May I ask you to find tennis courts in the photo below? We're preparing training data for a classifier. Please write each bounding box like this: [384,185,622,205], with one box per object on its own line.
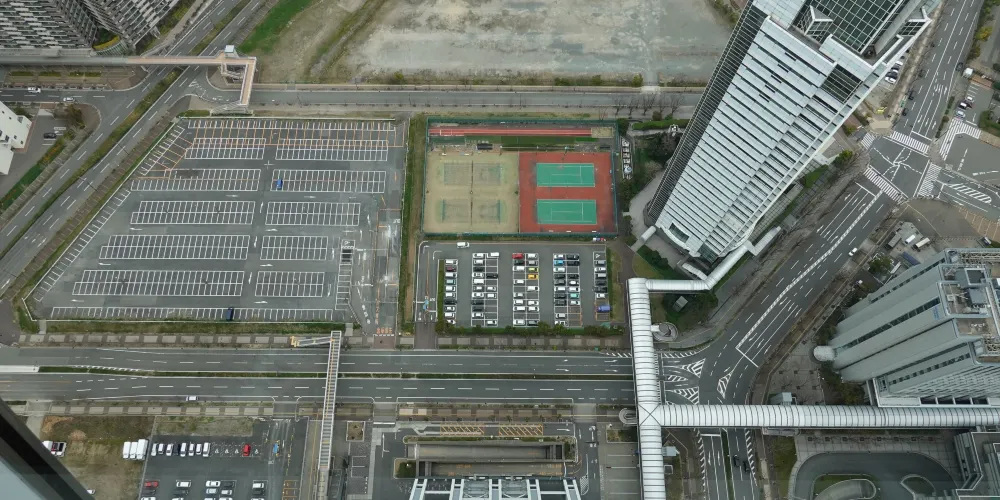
[520,152,612,193]
[520,193,614,232]
[423,191,520,232]
[424,152,520,191]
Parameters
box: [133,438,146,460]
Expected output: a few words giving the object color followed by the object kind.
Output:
white vehicle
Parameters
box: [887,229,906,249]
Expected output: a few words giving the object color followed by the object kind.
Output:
gray vehicle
